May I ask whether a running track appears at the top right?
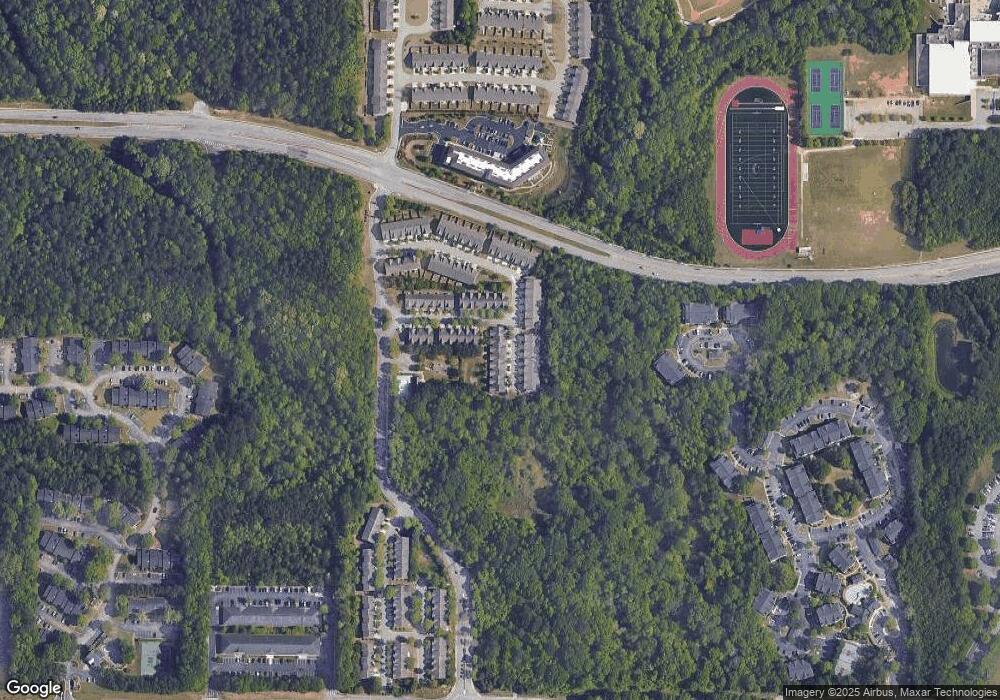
Yes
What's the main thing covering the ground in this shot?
trees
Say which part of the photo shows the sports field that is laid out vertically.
top right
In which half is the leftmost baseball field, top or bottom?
top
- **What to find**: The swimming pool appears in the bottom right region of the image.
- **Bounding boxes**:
[843,582,872,604]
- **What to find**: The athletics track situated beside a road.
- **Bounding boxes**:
[716,76,798,261]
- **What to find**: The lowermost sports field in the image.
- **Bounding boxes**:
[727,87,788,251]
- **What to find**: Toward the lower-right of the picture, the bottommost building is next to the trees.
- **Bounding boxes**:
[788,660,813,680]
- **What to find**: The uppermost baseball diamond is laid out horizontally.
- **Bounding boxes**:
[676,0,754,25]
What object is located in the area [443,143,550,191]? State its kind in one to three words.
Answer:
building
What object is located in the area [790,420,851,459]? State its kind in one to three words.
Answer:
building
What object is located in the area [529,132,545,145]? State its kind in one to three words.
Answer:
swimming pool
